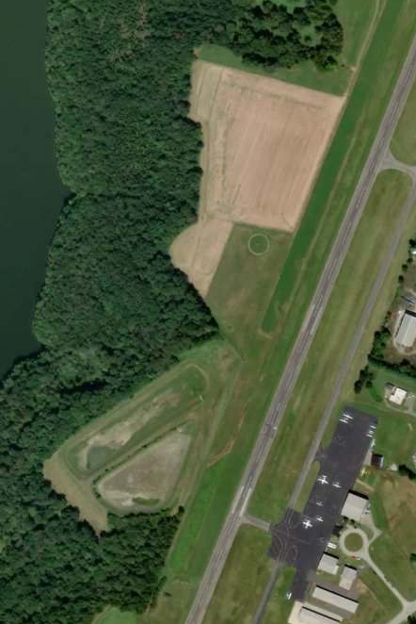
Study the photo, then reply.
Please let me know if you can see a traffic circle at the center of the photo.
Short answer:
No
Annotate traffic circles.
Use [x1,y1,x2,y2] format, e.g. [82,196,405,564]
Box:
[341,529,369,557]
